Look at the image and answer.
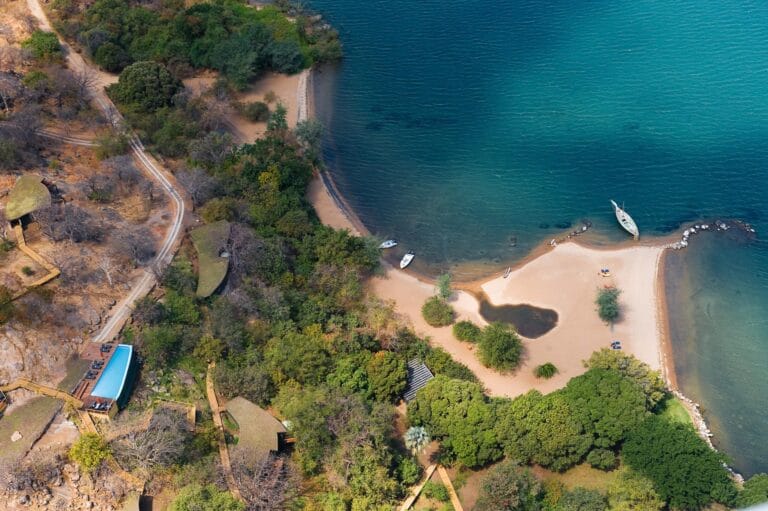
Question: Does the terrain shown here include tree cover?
Yes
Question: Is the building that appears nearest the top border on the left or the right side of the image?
left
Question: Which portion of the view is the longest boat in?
right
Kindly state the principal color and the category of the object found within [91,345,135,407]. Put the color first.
blue swimming pool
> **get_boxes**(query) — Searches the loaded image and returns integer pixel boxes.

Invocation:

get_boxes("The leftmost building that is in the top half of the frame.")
[5,175,52,224]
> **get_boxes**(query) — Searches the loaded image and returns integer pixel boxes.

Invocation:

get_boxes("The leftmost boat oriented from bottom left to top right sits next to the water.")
[402,250,416,267]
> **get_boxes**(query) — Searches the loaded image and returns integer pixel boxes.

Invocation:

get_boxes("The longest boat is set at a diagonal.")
[614,197,641,239]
